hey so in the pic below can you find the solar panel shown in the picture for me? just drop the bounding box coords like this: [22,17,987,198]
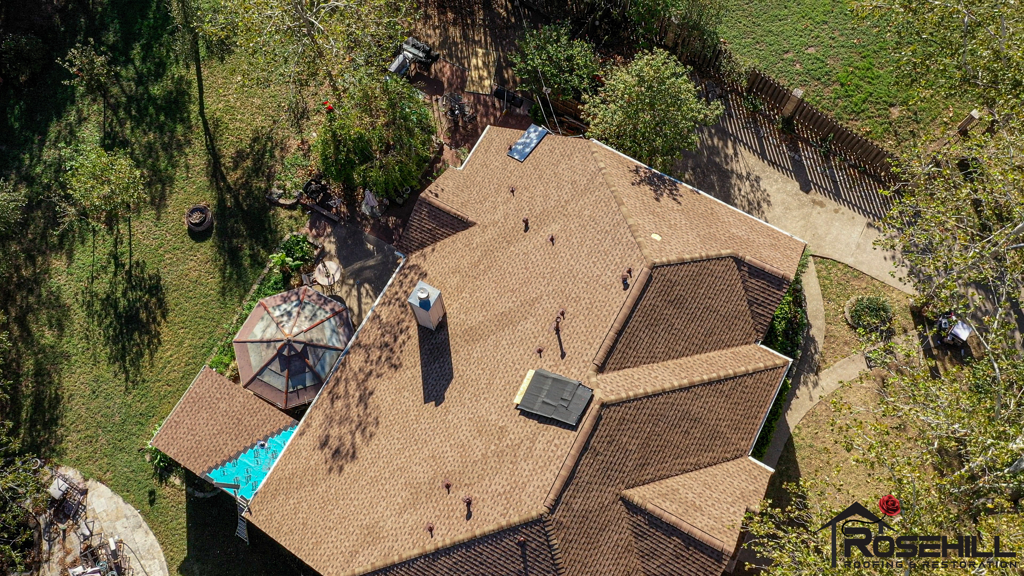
[508,124,549,164]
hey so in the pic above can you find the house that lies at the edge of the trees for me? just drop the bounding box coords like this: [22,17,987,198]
[148,124,808,576]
